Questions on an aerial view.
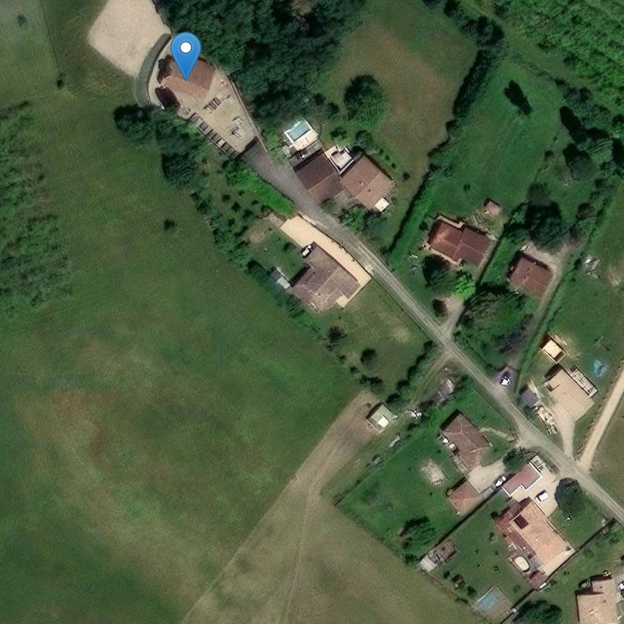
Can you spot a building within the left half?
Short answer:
Yes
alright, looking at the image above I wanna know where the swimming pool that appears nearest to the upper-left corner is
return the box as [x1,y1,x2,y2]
[284,119,318,150]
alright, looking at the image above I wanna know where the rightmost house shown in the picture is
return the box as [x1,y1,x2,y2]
[577,580,622,624]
